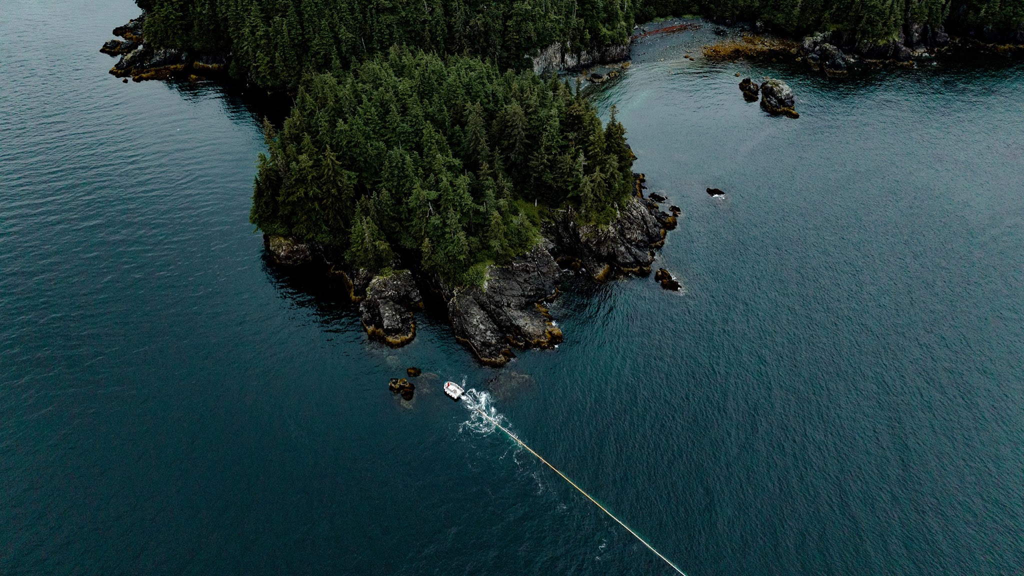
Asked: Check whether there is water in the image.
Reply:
Yes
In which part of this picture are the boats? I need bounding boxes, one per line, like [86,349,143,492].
[443,382,465,400]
